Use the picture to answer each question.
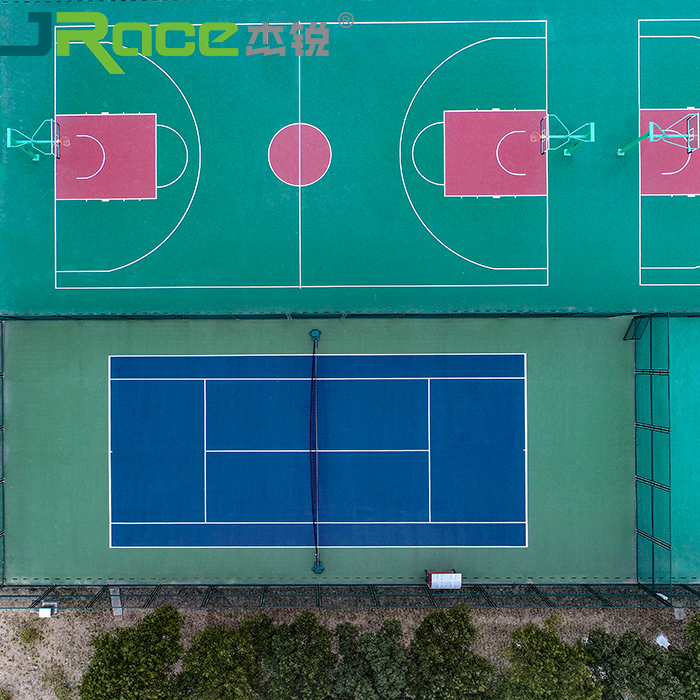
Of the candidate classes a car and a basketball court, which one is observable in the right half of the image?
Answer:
basketball court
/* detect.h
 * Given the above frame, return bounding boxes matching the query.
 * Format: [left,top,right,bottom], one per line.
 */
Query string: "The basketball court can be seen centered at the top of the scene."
[54,21,549,290]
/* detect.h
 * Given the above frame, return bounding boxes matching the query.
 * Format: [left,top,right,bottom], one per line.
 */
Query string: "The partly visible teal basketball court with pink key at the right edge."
[639,18,700,285]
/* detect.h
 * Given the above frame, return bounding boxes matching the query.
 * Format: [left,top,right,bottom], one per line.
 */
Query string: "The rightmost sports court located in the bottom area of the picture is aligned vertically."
[636,317,700,584]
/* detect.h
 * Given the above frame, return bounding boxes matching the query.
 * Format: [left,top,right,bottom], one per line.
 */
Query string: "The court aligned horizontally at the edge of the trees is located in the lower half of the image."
[0,315,637,586]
